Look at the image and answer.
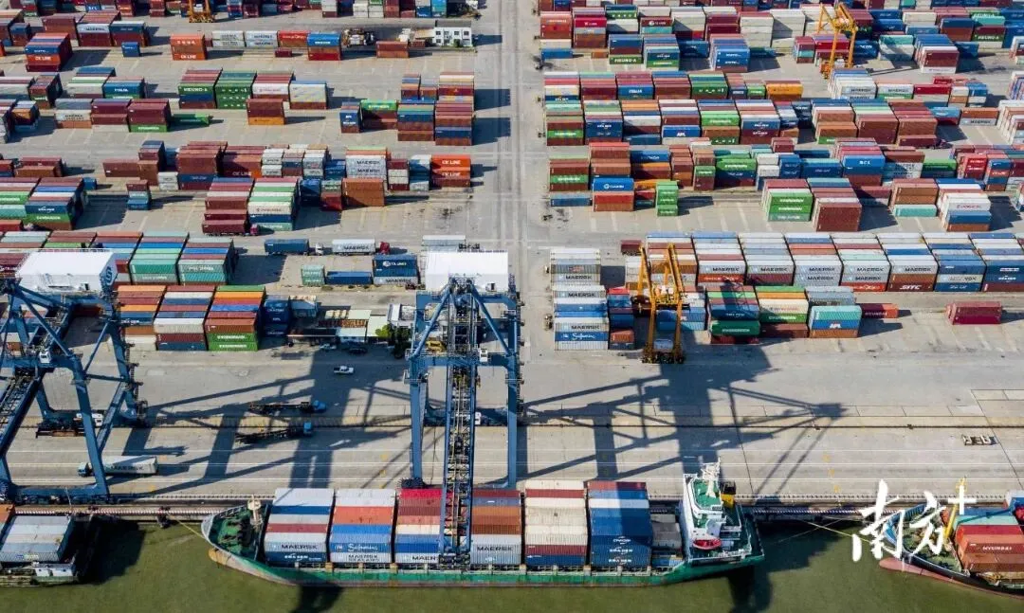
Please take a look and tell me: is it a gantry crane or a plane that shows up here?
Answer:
gantry crane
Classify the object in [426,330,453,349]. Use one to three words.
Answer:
work vehicle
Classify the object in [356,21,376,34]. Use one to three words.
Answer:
vehicle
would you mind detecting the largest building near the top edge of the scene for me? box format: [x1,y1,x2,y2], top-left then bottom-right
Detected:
[432,20,477,48]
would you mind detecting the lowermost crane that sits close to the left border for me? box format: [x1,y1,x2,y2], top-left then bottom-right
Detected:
[0,246,150,501]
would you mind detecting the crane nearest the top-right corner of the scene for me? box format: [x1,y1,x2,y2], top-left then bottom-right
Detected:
[815,1,862,72]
